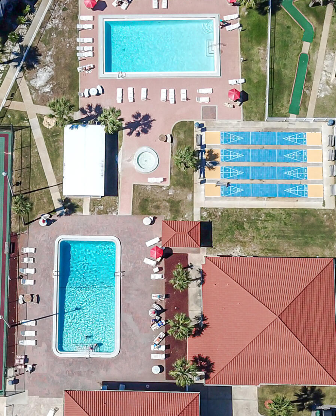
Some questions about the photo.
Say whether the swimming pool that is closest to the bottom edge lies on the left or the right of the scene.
left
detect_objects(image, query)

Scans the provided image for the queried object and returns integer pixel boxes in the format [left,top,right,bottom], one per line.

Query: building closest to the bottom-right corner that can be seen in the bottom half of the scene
[186,256,336,385]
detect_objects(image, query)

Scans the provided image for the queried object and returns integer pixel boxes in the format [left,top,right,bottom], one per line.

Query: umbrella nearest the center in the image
[149,246,163,259]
